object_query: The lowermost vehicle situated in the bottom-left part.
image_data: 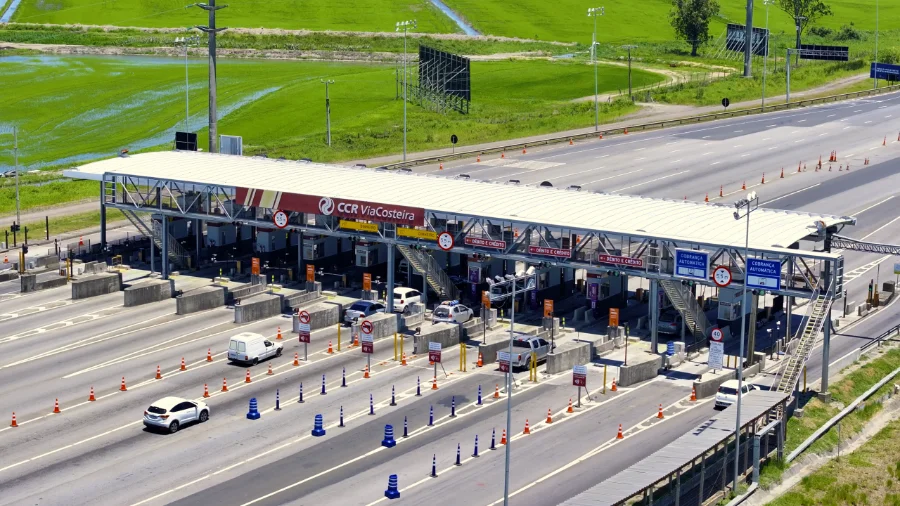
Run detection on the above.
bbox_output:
[150,394,216,430]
